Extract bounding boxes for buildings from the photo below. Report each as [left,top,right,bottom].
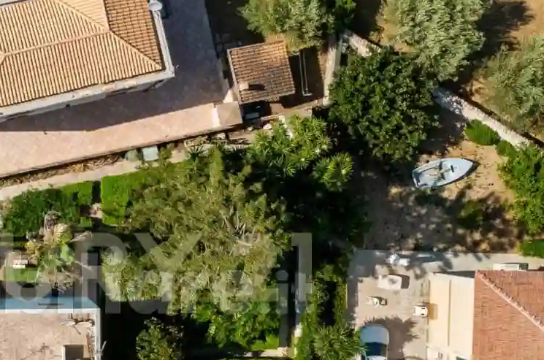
[0,297,102,360]
[424,269,544,360]
[0,0,177,129]
[220,38,295,104]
